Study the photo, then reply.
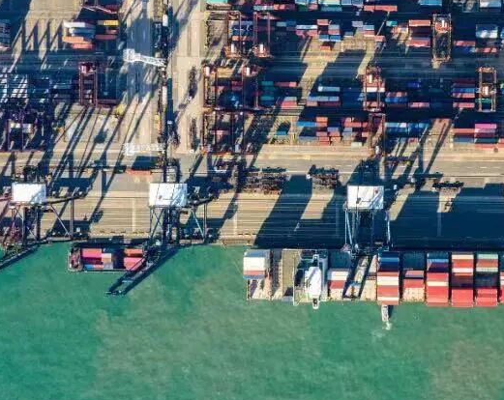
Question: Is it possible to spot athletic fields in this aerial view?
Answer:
No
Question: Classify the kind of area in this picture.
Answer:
port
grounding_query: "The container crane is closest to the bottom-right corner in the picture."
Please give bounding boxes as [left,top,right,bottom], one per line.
[340,170,398,296]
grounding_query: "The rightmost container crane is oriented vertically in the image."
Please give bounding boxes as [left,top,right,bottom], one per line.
[474,61,496,116]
